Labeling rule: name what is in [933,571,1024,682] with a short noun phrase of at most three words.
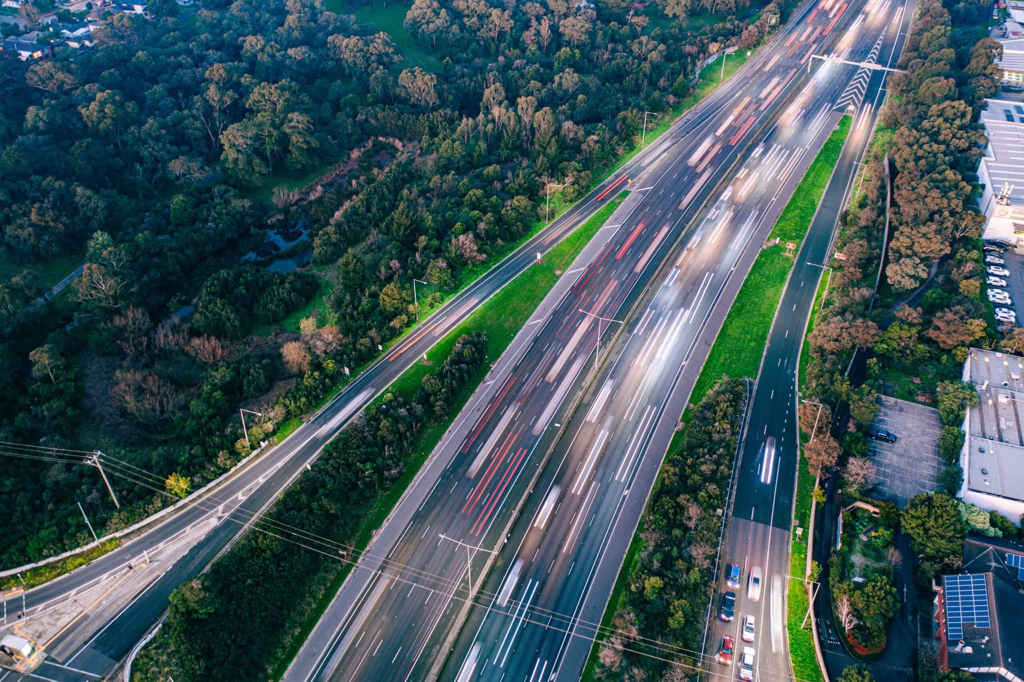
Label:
building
